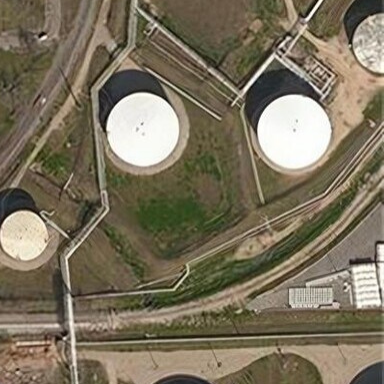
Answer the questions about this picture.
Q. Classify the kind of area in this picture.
industrial area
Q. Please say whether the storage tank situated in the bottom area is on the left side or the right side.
left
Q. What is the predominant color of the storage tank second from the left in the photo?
white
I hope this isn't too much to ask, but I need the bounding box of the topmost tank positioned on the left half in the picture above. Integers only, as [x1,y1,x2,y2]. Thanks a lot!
[105,91,181,167]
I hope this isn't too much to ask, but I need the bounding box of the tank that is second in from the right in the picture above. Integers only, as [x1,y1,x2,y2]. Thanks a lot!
[256,94,334,170]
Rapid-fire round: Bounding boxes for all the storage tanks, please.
[0,208,50,261]
[105,91,181,167]
[256,94,334,170]
[351,12,384,76]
